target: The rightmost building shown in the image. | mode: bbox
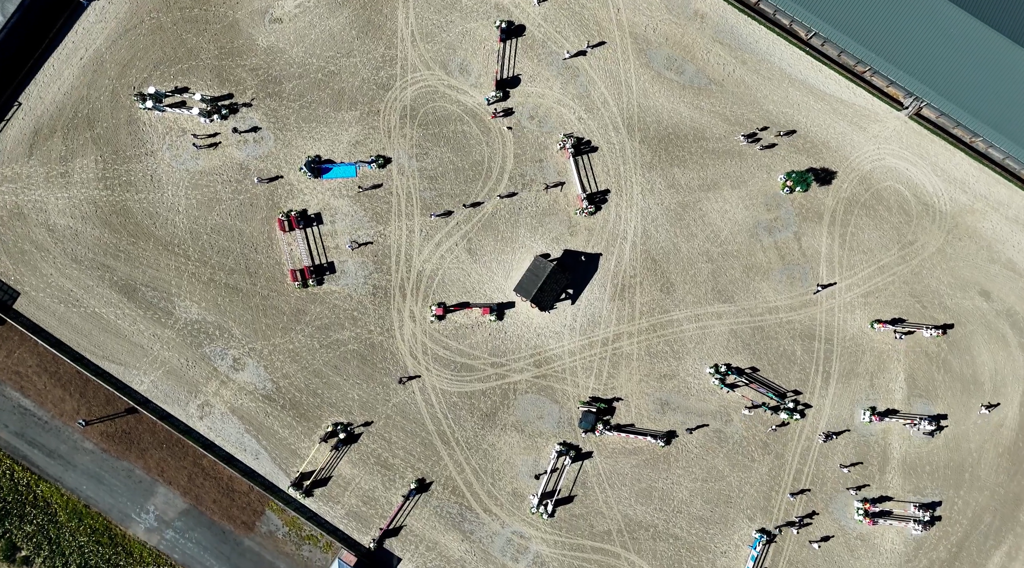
[748,0,1024,175]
